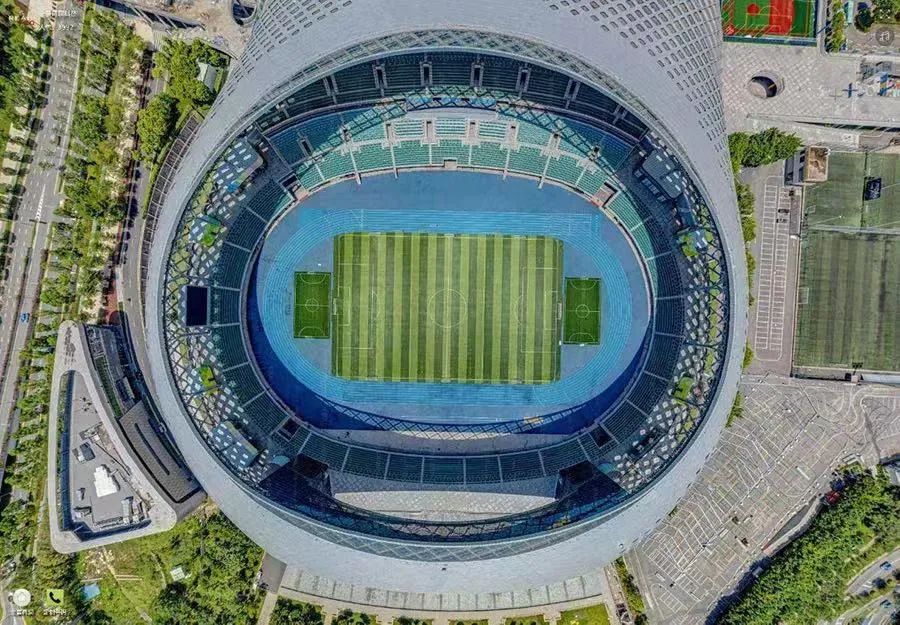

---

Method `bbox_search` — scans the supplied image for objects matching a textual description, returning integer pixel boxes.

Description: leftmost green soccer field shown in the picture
[294,272,330,338]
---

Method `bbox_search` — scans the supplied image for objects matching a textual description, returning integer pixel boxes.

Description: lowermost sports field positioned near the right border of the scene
[796,233,900,369]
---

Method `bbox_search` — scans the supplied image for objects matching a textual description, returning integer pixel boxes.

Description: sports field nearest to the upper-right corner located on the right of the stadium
[803,152,900,229]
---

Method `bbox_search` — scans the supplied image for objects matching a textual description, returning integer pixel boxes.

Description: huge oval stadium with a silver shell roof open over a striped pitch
[145,0,749,593]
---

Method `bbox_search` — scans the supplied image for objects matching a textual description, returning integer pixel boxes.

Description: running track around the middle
[260,208,637,405]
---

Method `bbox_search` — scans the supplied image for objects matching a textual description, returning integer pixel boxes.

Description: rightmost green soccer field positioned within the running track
[564,278,601,345]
